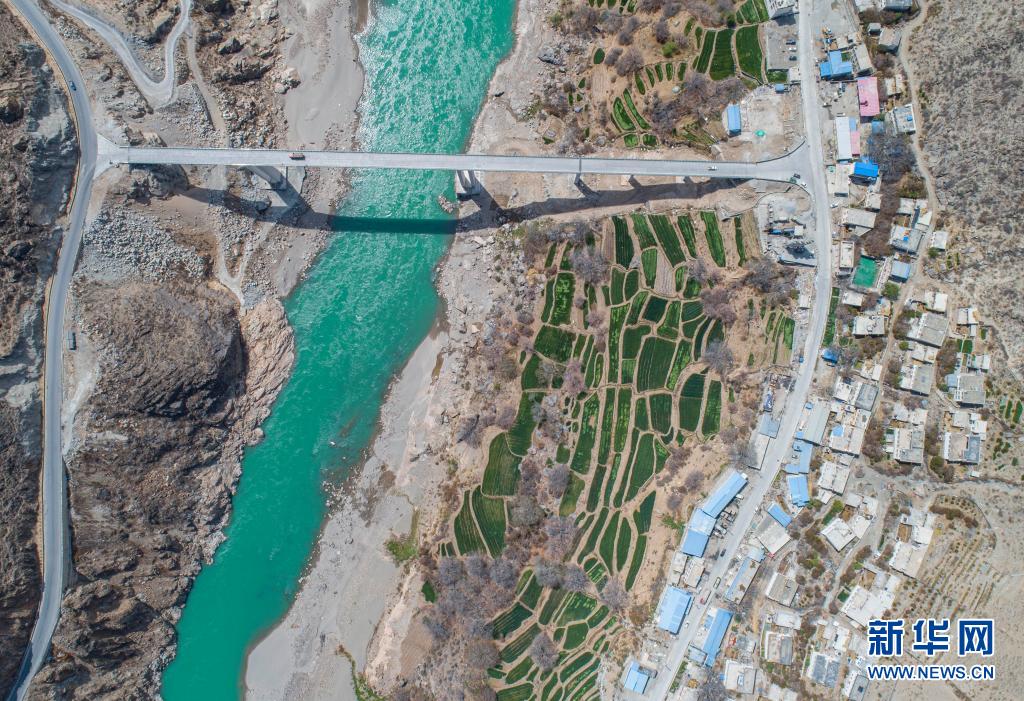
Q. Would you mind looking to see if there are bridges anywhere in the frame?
Yes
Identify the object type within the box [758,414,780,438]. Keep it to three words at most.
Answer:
shed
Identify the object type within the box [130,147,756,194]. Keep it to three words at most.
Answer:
bridge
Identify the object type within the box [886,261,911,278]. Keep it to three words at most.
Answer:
building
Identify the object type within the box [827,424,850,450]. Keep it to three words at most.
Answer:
house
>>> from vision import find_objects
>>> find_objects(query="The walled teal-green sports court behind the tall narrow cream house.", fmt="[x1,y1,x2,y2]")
[850,255,878,288]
